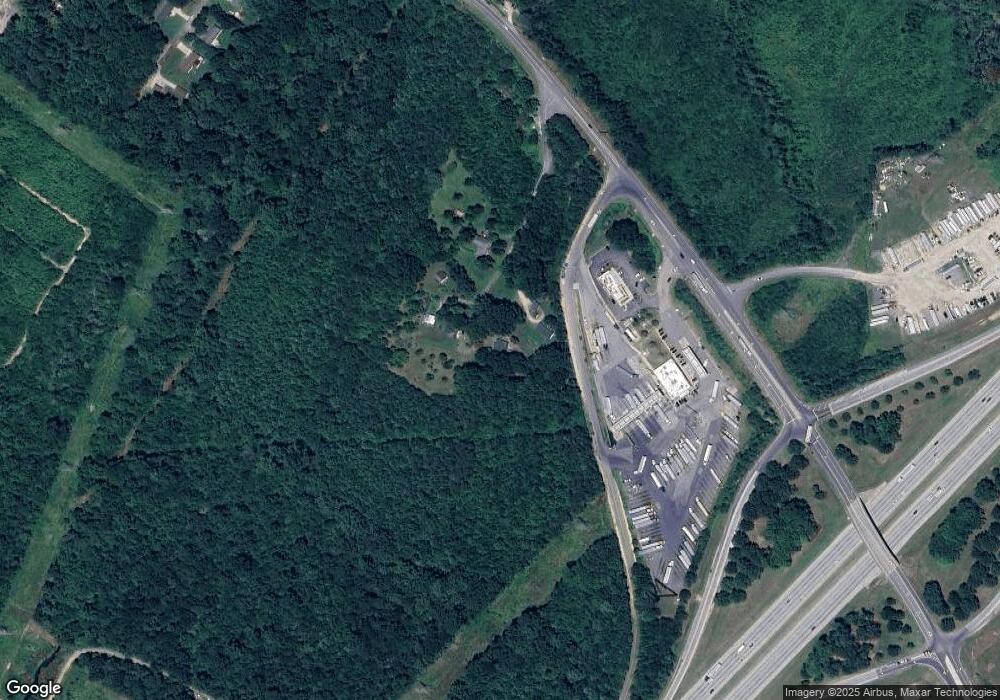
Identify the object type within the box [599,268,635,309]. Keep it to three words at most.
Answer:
building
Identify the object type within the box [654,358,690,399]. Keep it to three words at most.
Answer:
building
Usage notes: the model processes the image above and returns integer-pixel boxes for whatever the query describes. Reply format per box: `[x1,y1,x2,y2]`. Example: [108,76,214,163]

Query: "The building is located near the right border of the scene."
[944,265,969,291]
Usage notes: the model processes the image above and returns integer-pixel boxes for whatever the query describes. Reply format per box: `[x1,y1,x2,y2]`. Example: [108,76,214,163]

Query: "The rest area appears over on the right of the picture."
[562,245,742,595]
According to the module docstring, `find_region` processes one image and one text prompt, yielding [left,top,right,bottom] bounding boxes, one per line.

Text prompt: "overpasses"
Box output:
[849,499,901,571]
